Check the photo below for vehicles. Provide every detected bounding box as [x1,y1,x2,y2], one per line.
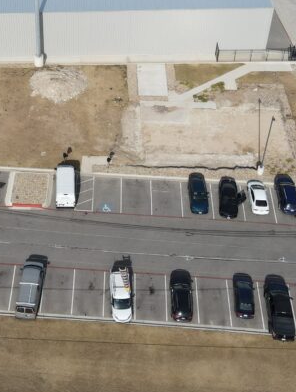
[188,174,211,214]
[262,278,296,341]
[217,178,247,218]
[274,175,296,215]
[168,272,194,321]
[110,264,136,322]
[55,163,79,208]
[17,260,46,317]
[245,177,269,215]
[229,271,255,318]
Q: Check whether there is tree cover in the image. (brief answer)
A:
No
